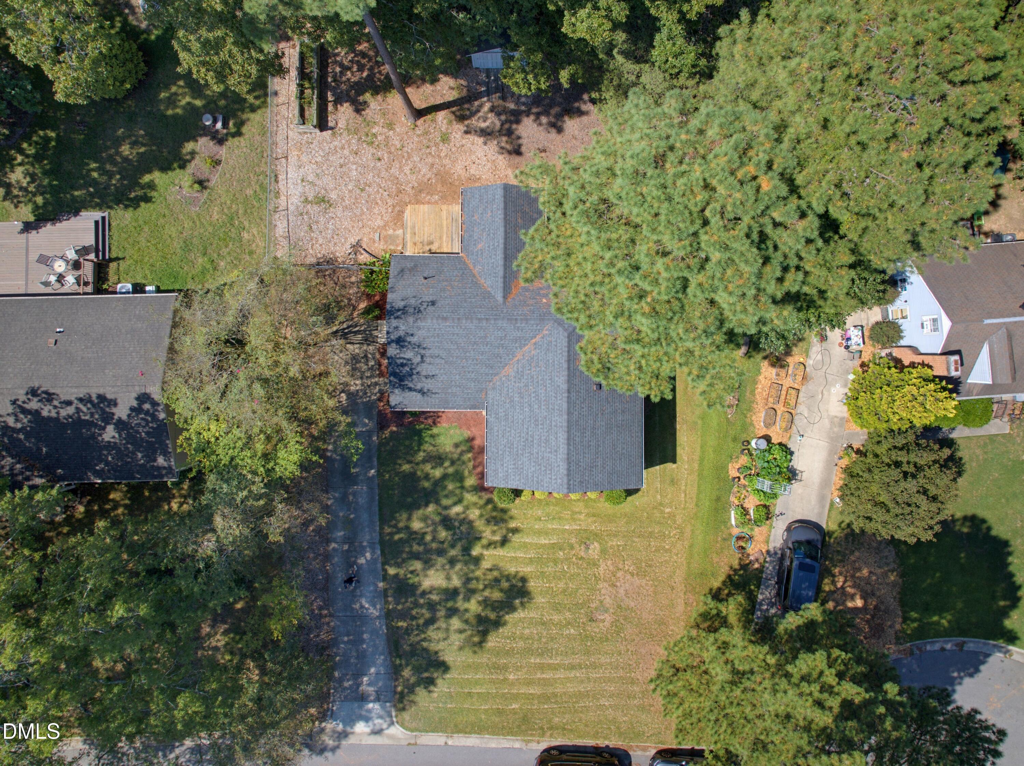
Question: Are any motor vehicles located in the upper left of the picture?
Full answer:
No, the scene shows no motor vehicle in the upper left of the picture.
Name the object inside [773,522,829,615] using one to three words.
car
